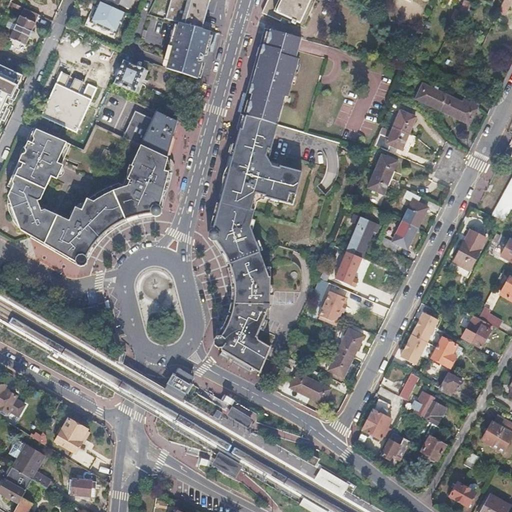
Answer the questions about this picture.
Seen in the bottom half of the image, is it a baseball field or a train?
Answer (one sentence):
There is a train in the bottom half of the image.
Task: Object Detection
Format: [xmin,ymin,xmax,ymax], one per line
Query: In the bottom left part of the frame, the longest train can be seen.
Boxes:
[8,316,232,450]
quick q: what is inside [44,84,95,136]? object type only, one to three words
building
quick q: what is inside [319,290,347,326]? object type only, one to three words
house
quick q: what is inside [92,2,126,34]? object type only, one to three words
house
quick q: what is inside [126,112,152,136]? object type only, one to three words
building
